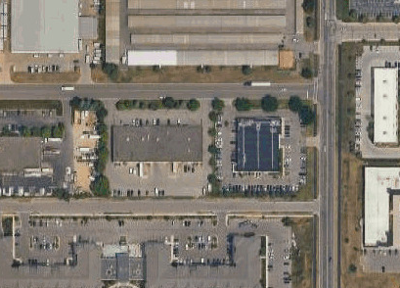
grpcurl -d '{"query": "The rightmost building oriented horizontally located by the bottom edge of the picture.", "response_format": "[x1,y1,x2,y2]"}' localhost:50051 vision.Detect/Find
[142,236,261,288]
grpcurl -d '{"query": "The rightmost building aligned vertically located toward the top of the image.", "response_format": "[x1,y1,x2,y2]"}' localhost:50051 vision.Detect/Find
[373,66,398,142]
